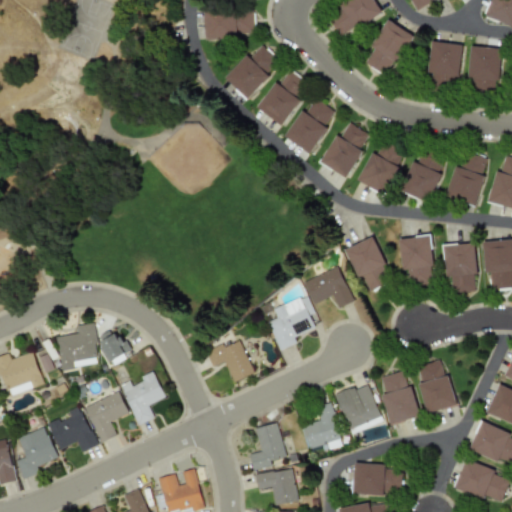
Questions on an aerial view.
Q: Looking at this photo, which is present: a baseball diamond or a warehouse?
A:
baseball diamond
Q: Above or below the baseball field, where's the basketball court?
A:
above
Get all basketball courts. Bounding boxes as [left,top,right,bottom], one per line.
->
[58,0,114,57]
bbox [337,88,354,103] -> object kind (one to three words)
vehicle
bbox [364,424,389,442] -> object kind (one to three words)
swimming pool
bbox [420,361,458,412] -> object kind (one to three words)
house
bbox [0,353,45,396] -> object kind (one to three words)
house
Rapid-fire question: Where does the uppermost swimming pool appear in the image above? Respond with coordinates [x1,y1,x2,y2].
[283,284,304,304]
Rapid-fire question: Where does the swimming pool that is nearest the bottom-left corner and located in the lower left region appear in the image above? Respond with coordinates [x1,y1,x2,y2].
[14,394,34,412]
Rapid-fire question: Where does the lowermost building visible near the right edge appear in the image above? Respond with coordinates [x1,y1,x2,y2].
[456,460,510,502]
